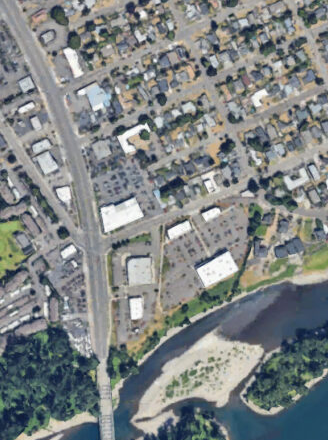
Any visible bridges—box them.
[96,354,113,440]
